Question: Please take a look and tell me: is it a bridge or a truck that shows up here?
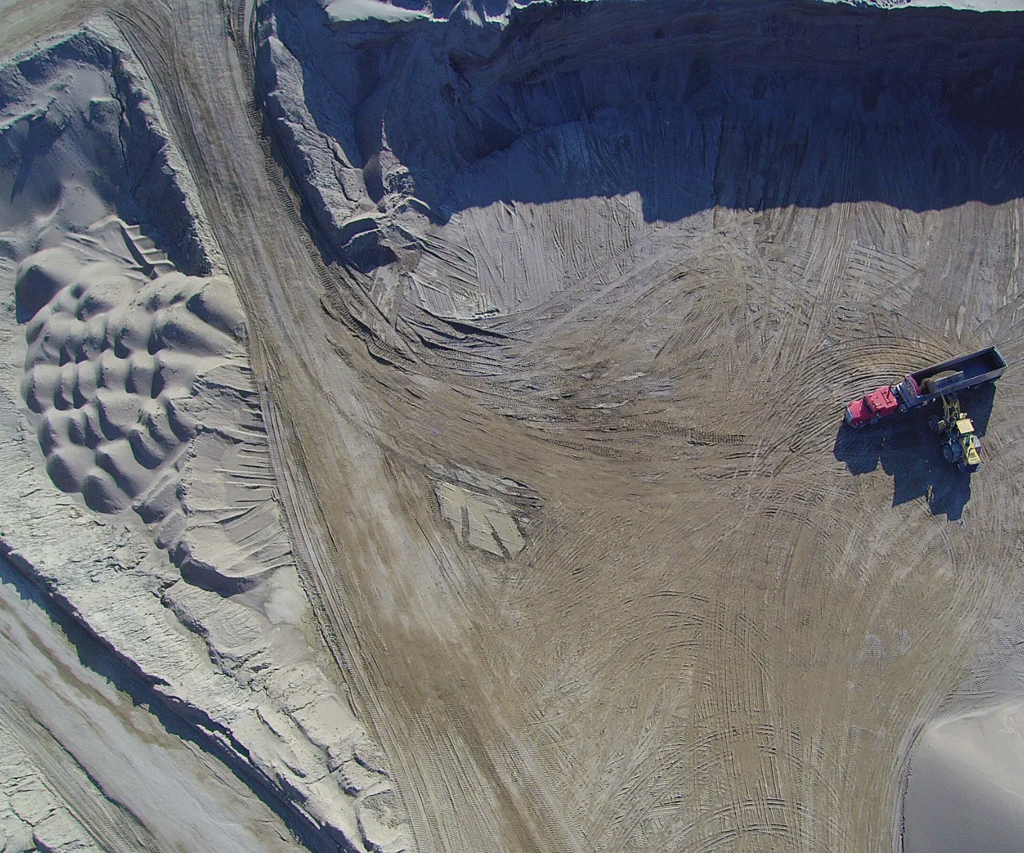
truck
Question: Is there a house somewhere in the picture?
No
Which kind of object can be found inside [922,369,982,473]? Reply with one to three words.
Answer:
work vehicle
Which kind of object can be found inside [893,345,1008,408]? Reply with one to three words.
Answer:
trailer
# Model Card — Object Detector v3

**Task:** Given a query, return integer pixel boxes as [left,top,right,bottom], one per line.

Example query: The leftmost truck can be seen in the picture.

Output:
[842,383,911,429]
